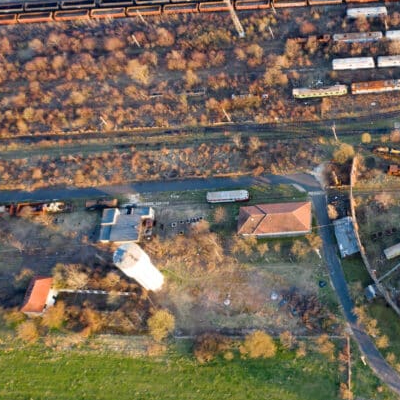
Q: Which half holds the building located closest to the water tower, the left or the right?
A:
left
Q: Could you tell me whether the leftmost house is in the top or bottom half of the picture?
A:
bottom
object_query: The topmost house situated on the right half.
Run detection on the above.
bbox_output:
[239,202,313,238]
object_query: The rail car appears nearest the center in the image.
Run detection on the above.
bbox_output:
[208,192,252,207]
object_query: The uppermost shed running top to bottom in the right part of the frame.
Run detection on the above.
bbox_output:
[334,216,359,261]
